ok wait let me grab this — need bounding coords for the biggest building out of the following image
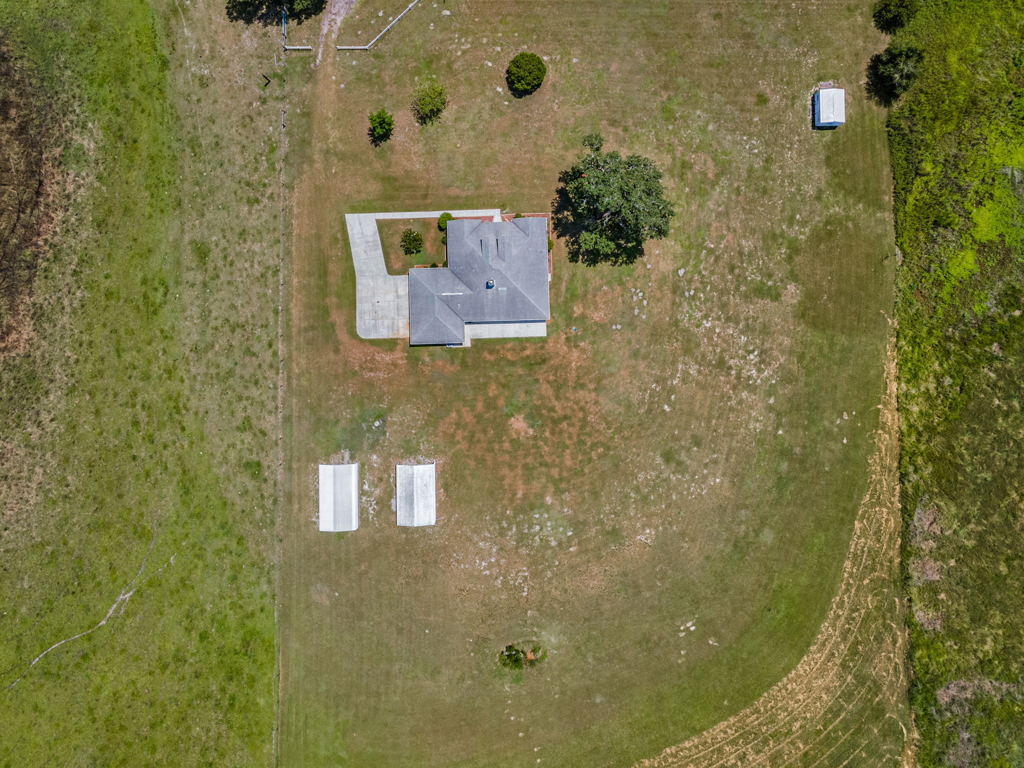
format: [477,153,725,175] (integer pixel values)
[408,216,550,344]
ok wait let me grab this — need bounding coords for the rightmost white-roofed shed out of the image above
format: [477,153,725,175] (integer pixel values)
[815,85,849,125]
